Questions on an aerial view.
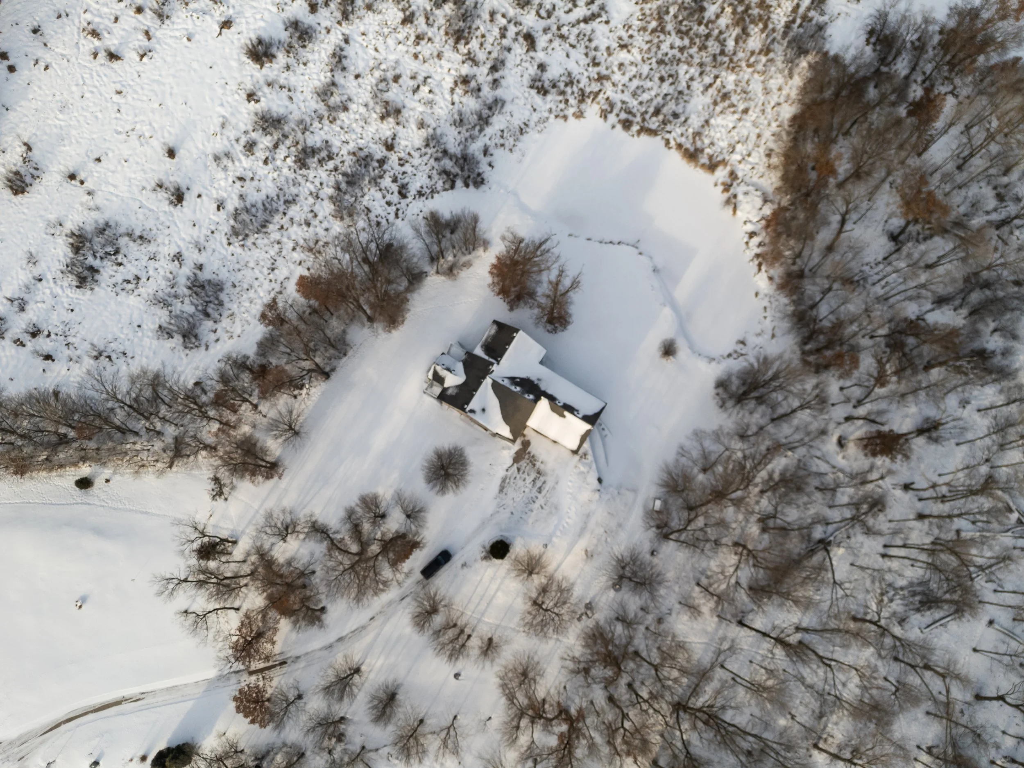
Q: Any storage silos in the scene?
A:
No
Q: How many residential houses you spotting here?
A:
1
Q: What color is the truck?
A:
black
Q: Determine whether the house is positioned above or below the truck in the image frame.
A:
above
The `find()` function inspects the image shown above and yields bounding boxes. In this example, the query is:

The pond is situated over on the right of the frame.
[513,114,761,358]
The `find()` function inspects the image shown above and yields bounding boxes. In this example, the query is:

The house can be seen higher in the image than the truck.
[421,319,607,458]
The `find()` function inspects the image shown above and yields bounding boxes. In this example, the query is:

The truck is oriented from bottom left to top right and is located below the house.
[419,549,452,581]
